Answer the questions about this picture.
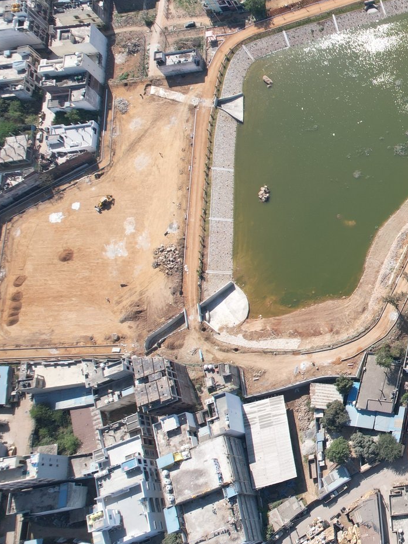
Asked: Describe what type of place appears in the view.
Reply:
residential area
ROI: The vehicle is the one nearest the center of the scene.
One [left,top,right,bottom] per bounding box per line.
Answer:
[95,193,117,214]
